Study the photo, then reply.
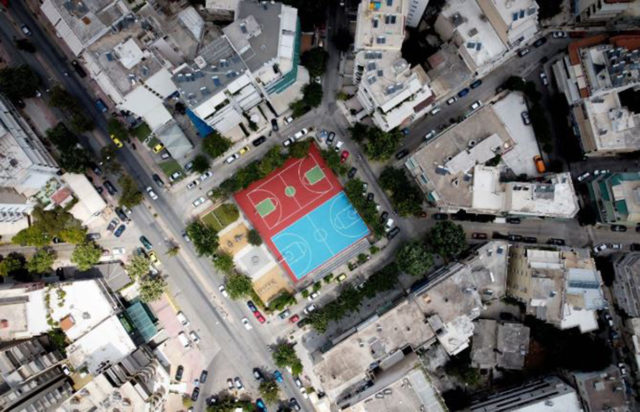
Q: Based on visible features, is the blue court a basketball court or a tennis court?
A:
basketball court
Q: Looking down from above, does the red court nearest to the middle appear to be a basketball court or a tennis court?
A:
basketball court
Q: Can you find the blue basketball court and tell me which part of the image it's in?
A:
center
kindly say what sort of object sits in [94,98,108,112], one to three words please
vehicle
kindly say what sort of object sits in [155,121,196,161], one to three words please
shed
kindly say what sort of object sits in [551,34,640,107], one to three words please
building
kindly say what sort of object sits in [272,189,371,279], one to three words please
basketball court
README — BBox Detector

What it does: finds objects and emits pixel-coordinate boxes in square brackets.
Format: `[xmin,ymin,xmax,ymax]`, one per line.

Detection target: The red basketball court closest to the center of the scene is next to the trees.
[234,144,375,286]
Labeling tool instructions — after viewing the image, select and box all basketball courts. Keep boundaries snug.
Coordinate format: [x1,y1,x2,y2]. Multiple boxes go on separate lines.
[272,189,371,279]
[234,144,375,286]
